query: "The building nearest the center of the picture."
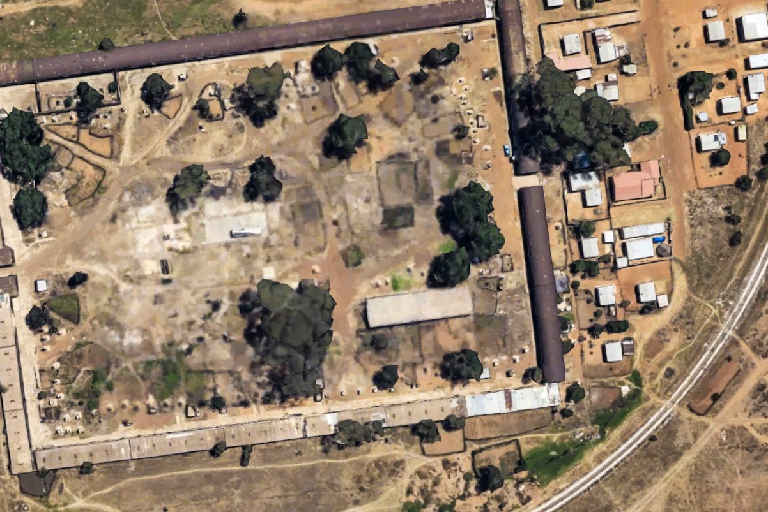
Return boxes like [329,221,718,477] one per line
[367,288,472,326]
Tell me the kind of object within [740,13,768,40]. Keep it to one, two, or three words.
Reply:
house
